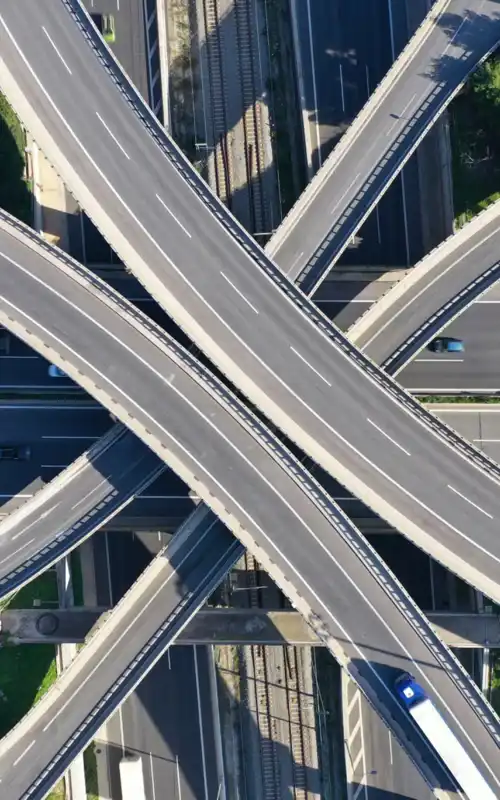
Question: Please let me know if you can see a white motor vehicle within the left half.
Yes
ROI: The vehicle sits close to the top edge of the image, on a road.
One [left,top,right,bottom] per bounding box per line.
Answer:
[99,7,116,43]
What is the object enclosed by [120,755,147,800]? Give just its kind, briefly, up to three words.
truck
